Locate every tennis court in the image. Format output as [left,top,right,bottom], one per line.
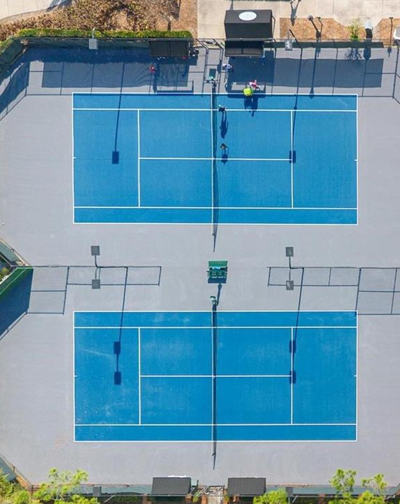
[74,311,357,442]
[73,92,358,225]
